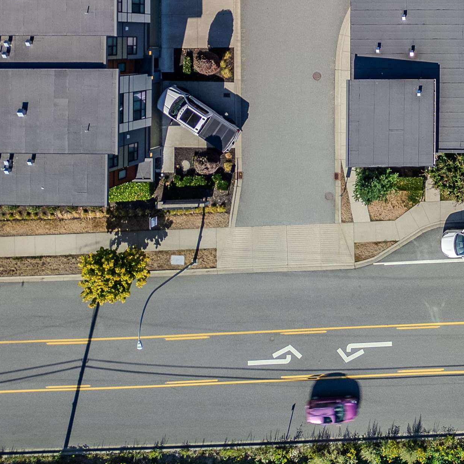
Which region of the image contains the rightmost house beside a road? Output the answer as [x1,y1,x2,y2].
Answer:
[344,0,464,168]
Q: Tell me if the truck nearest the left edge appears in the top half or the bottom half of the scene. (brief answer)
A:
top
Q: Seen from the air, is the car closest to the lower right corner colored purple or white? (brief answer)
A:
purple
